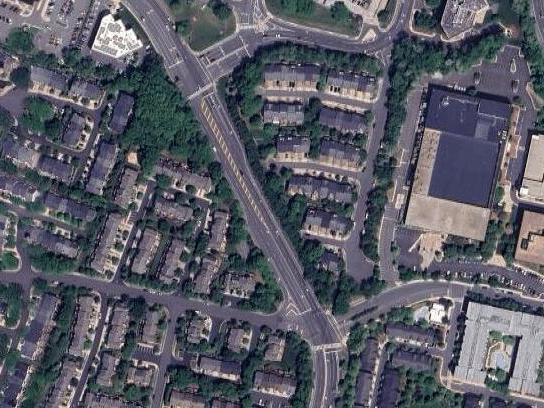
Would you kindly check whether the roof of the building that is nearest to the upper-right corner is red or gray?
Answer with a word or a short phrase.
gray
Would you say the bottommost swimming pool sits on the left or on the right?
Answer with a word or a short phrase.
right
